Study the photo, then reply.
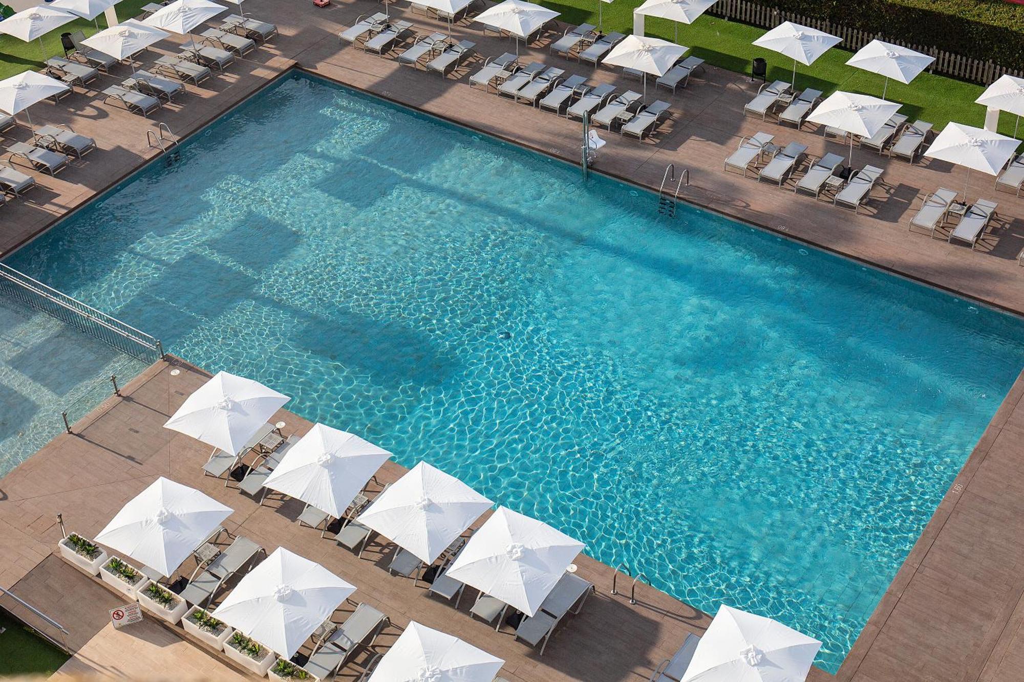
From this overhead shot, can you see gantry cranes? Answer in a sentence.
No, there isn't any gantry crane down there.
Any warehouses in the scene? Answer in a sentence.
No, the picture doesn't show any warehouse.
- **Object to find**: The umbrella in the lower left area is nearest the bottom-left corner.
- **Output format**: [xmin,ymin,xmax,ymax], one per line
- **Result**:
[94,478,235,595]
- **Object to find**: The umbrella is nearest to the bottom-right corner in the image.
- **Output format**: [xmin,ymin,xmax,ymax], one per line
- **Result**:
[680,605,824,682]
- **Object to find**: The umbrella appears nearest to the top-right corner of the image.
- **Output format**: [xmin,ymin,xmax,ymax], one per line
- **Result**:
[970,74,1024,136]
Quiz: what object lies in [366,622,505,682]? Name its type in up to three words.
umbrella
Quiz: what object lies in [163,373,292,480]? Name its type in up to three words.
umbrella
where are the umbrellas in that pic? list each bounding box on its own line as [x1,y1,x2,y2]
[354,464,493,583]
[415,0,472,48]
[163,373,292,480]
[637,0,720,43]
[366,622,505,682]
[472,0,560,72]
[0,68,68,145]
[210,549,358,666]
[379,0,394,28]
[262,425,394,537]
[137,0,225,64]
[970,74,1024,136]
[226,0,252,38]
[807,89,900,173]
[444,510,585,632]
[48,0,128,32]
[79,18,170,92]
[680,605,824,682]
[844,39,936,102]
[751,20,842,99]
[923,121,1020,206]
[0,1,78,75]
[94,478,235,595]
[591,0,614,37]
[602,33,690,110]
